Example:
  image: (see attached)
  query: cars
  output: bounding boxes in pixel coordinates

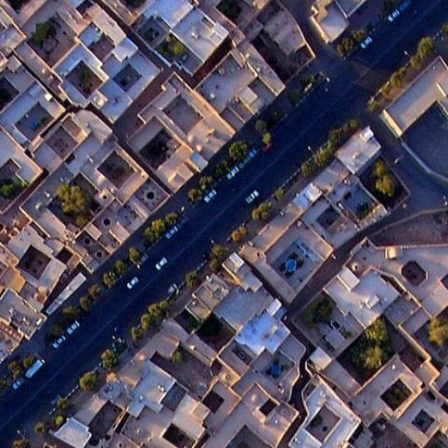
[247,146,258,158]
[126,276,140,289]
[246,190,259,203]
[67,322,80,335]
[167,282,180,295]
[398,0,411,11]
[227,167,239,180]
[166,226,179,239]
[204,190,217,202]
[12,377,25,390]
[359,36,372,49]
[53,336,66,349]
[388,9,400,21]
[155,257,168,270]
[260,141,273,154]
[237,157,251,169]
